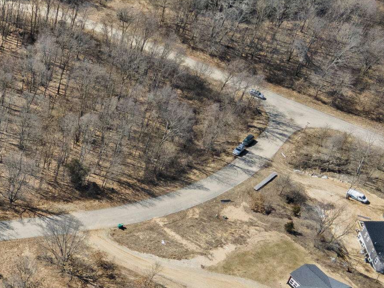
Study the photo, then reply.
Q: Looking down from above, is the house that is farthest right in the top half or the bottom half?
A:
bottom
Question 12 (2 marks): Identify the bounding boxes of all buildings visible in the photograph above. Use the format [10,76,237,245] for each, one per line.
[351,214,384,285]
[286,265,352,288]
